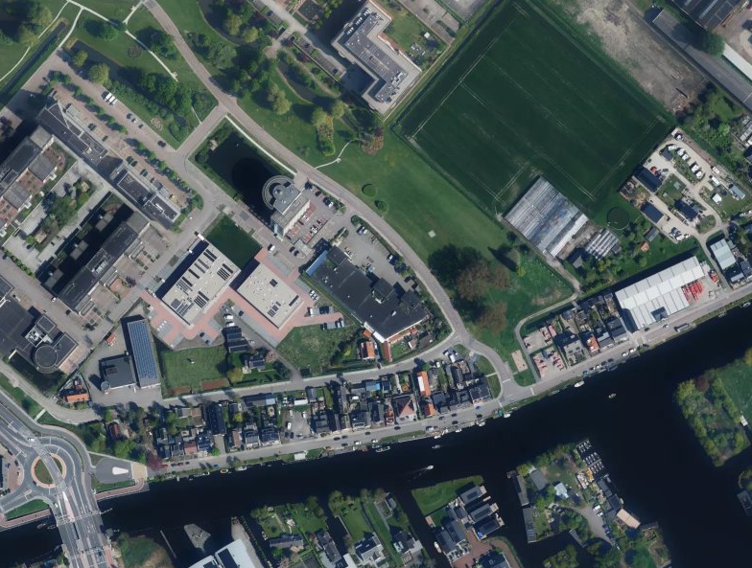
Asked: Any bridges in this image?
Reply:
Yes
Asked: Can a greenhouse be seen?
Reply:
Yes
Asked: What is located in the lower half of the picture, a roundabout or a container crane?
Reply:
roundabout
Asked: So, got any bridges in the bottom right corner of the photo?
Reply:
No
